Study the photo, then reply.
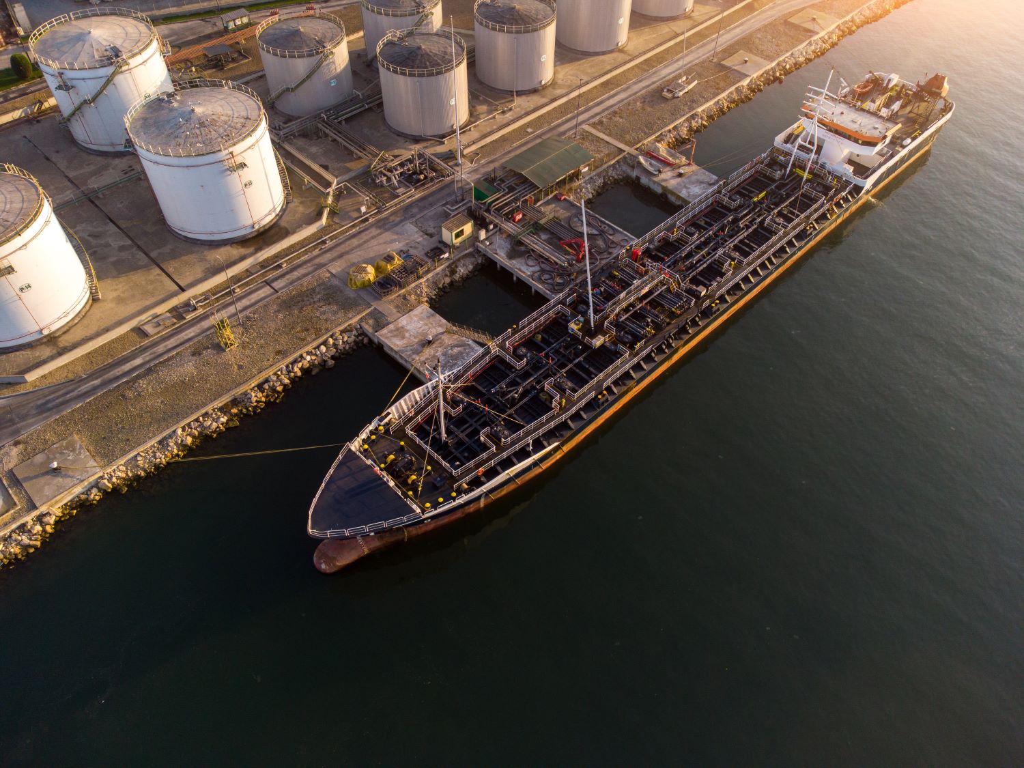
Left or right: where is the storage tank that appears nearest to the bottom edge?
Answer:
left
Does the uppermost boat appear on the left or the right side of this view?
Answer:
right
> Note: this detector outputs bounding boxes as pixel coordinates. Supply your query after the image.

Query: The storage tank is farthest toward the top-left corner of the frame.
[27,2,174,153]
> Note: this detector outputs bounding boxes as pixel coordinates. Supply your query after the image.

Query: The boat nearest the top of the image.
[659,28,699,100]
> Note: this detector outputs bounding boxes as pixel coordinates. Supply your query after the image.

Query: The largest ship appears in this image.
[306,56,960,577]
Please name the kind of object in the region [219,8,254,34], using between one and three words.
shed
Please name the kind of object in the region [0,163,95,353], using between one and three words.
storage tank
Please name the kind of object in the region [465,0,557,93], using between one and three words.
storage tank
